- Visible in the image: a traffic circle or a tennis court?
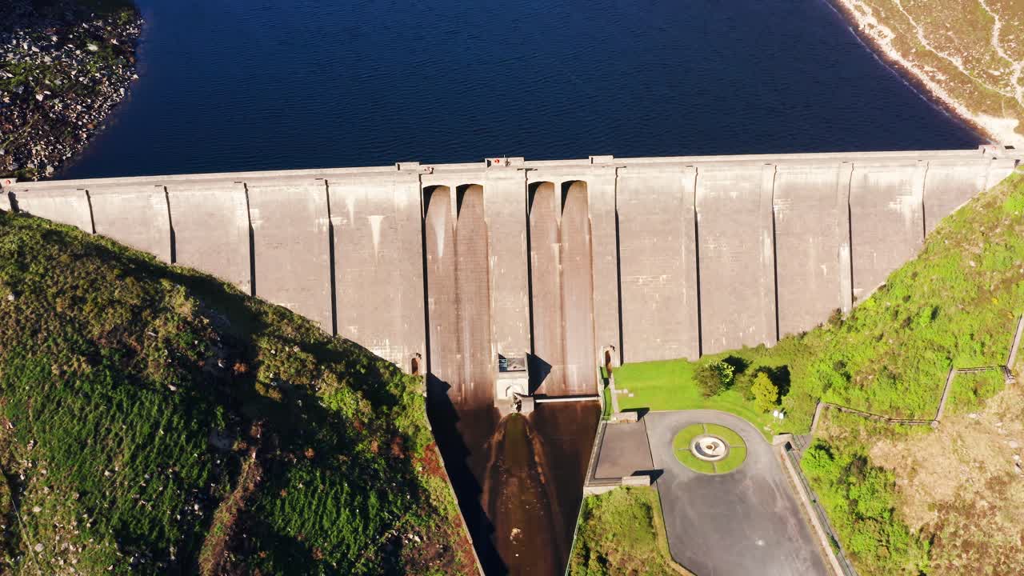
traffic circle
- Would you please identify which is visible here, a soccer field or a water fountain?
water fountain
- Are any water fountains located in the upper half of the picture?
No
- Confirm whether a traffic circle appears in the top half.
No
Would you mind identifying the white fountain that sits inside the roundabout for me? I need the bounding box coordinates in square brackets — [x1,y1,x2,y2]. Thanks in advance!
[691,434,728,461]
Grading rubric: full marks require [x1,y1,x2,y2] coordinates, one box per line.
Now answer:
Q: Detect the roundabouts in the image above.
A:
[674,423,748,476]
